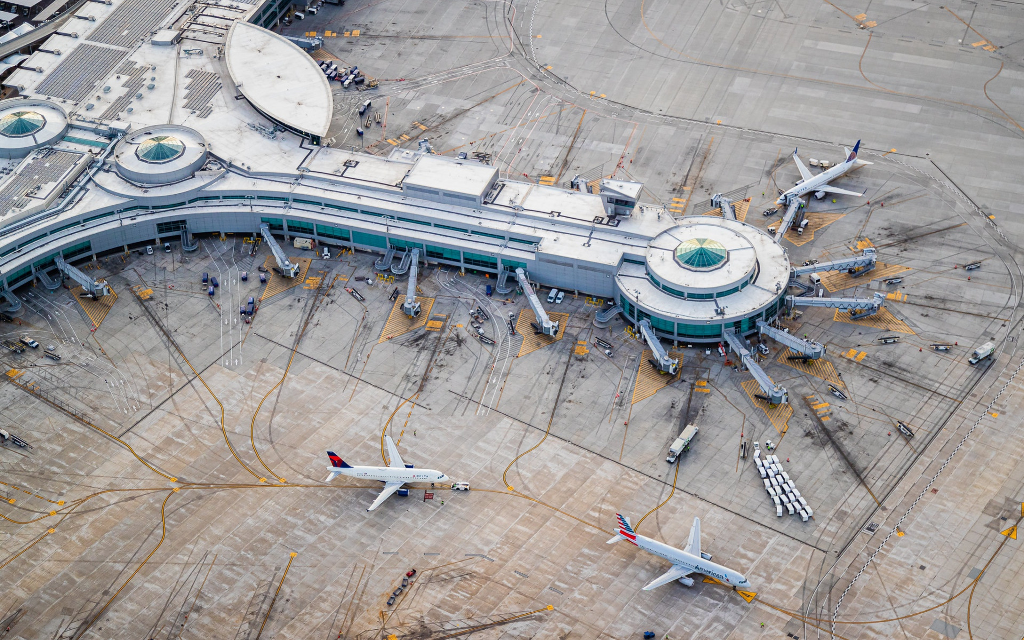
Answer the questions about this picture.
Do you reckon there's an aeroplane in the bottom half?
Yes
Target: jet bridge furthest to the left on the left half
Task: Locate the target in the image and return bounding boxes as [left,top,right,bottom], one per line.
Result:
[56,261,113,300]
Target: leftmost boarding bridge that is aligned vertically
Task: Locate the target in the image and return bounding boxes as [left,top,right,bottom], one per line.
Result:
[401,251,423,318]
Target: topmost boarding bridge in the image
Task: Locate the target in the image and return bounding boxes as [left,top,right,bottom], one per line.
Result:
[271,28,326,53]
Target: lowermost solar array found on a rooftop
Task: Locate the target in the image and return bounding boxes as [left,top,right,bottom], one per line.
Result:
[0,149,81,217]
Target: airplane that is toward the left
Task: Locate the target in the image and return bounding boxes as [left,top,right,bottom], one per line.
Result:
[326,434,449,512]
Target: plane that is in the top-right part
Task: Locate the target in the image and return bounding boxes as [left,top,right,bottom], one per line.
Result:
[776,139,873,206]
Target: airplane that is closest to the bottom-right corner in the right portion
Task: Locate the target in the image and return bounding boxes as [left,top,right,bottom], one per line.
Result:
[607,514,751,591]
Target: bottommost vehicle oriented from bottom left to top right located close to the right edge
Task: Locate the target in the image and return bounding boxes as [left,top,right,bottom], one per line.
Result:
[968,343,997,365]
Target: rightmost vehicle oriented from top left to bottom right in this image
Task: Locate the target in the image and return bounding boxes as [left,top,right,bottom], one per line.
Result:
[897,421,914,436]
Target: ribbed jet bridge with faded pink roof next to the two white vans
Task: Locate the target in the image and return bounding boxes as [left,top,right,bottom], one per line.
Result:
[514,270,561,338]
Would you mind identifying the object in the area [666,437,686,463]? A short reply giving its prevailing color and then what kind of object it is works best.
white vehicle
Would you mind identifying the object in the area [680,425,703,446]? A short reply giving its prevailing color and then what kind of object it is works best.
white truck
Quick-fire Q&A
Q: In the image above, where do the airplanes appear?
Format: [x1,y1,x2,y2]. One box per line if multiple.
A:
[326,434,449,512]
[607,514,751,591]
[776,139,873,206]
